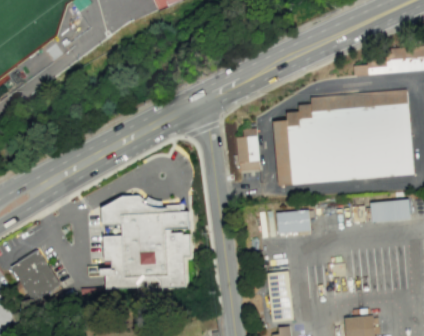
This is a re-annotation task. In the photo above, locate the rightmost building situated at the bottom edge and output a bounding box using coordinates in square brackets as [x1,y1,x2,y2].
[344,314,380,336]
